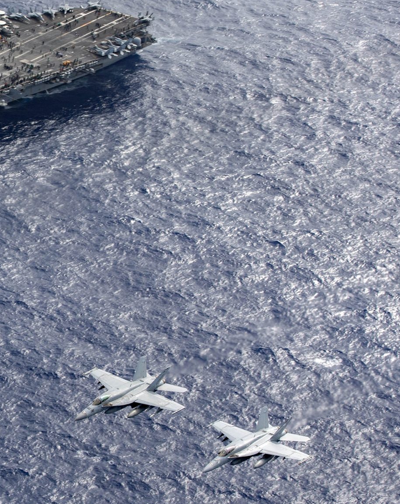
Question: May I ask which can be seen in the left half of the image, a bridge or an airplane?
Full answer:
The one visible in the left half of the image is an airplane.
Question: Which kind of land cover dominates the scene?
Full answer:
What you mostly see from above here is water.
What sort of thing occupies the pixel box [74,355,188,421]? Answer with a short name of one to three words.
airplane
